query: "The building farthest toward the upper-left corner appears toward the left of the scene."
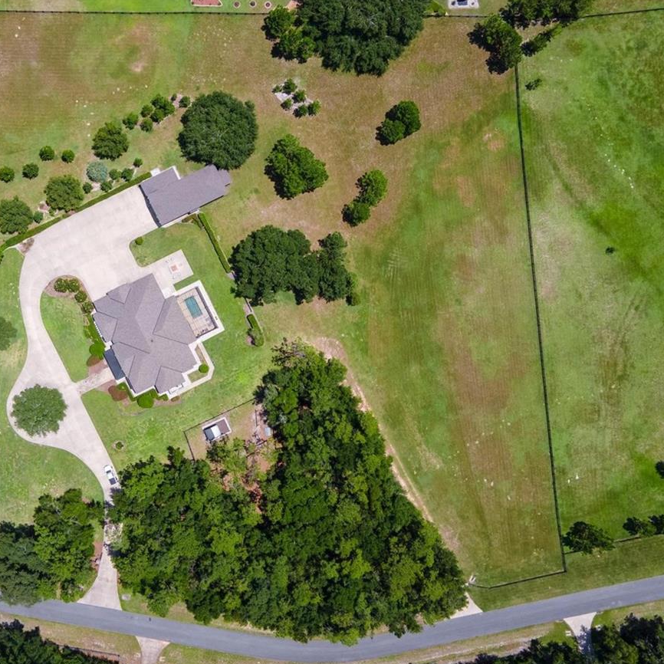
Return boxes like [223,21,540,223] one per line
[139,165,233,227]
